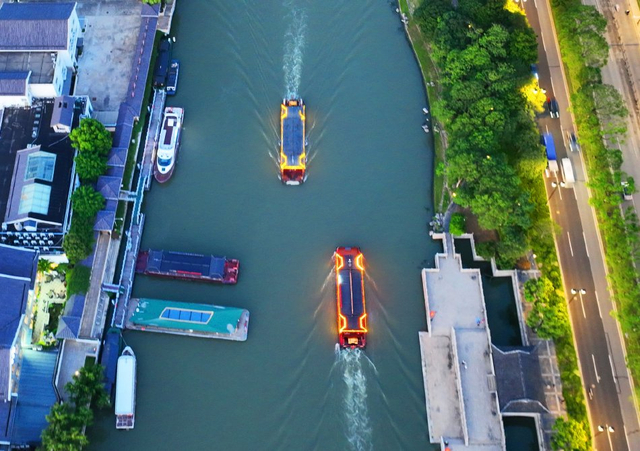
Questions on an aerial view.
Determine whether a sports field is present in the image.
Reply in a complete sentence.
No, there appears to be no sports field in this shot.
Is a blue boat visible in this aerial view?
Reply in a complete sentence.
Yes, the picture does show a blue boat.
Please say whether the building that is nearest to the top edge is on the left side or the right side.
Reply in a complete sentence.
The building that is nearest to the top edge sits on the left side.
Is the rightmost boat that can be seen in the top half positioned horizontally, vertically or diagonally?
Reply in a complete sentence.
The rightmost boat that can be seen in the top half has been laid out vertically relative to the frame.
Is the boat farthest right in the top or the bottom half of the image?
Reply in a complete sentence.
It is in the bottom half that the boat farthest right appears.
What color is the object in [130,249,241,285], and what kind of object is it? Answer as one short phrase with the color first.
blue boat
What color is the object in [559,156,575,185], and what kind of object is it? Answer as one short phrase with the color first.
white vehicle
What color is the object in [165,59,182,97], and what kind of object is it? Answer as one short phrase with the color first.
blue boat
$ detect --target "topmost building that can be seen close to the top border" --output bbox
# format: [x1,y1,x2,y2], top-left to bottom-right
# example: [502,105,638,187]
[0,1,89,68]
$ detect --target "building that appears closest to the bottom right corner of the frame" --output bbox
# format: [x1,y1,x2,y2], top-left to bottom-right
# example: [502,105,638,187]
[492,341,552,414]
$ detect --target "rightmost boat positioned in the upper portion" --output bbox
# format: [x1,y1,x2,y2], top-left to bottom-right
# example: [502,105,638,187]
[278,97,306,184]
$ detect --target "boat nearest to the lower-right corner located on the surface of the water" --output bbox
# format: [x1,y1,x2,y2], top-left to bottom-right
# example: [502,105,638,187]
[335,242,369,350]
